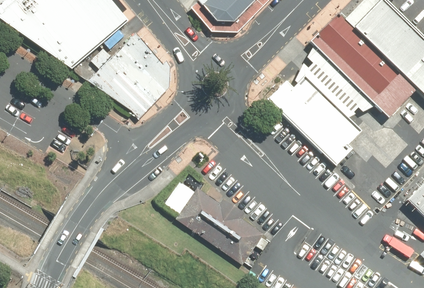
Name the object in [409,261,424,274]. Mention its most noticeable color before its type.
white vehicle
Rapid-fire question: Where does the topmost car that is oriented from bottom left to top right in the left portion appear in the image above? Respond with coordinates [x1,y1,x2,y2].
[153,144,168,158]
